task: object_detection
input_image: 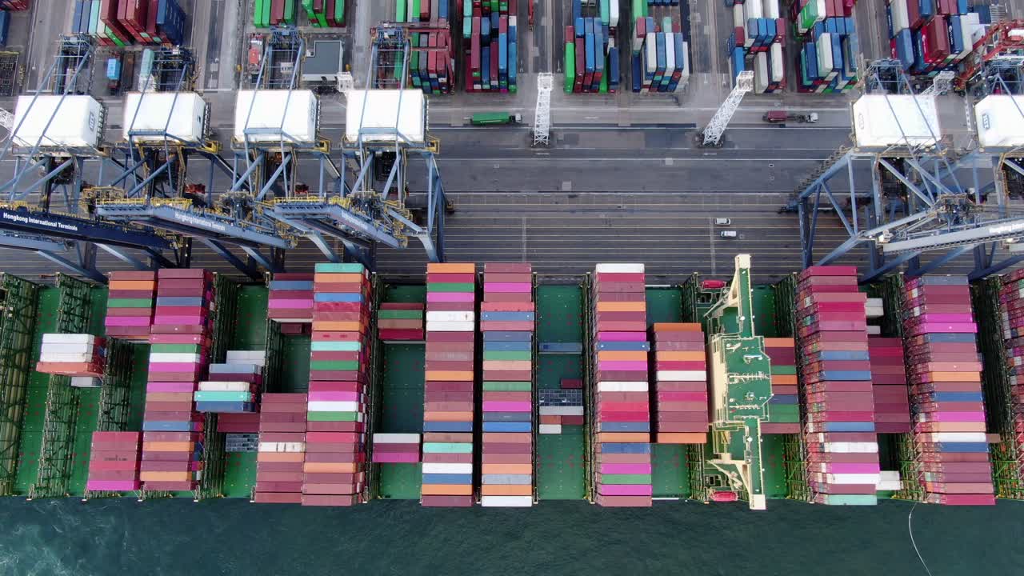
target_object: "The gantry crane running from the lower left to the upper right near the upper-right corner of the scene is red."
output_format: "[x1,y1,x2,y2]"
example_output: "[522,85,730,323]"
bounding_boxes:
[956,17,1024,84]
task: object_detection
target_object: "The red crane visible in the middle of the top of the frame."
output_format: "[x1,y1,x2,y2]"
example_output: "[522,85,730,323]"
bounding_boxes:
[394,27,454,89]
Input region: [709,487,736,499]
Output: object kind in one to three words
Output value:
boat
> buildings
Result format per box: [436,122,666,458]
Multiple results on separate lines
[302,40,344,80]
